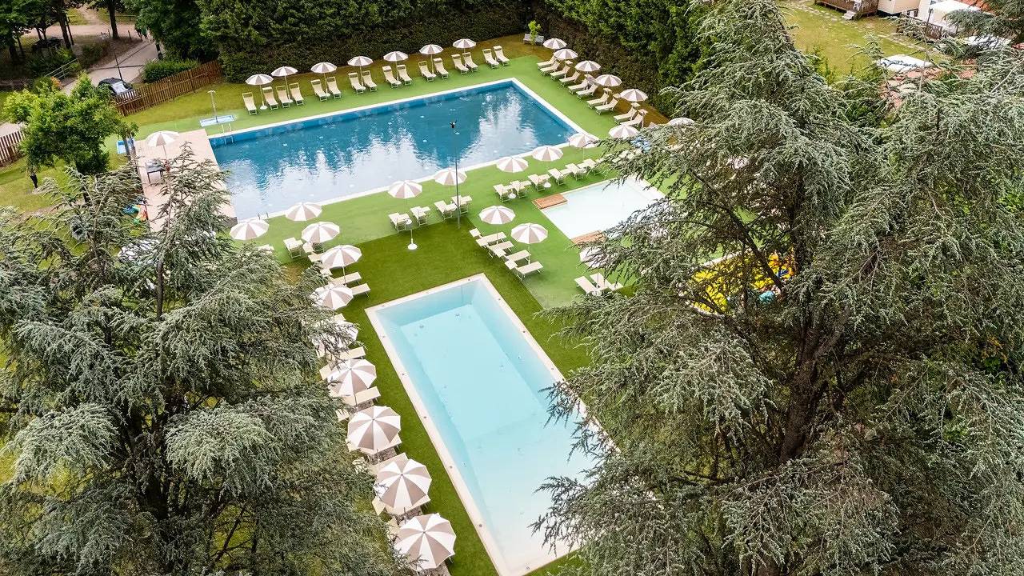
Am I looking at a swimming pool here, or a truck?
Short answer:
swimming pool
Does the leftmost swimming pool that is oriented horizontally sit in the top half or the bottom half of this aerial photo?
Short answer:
top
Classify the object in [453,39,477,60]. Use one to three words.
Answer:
umbrella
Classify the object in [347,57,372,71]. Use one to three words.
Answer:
umbrella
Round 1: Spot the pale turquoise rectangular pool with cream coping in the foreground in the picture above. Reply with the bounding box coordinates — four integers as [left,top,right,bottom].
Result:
[365,274,649,576]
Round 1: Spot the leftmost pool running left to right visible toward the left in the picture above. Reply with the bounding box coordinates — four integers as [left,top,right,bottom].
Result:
[208,78,590,222]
